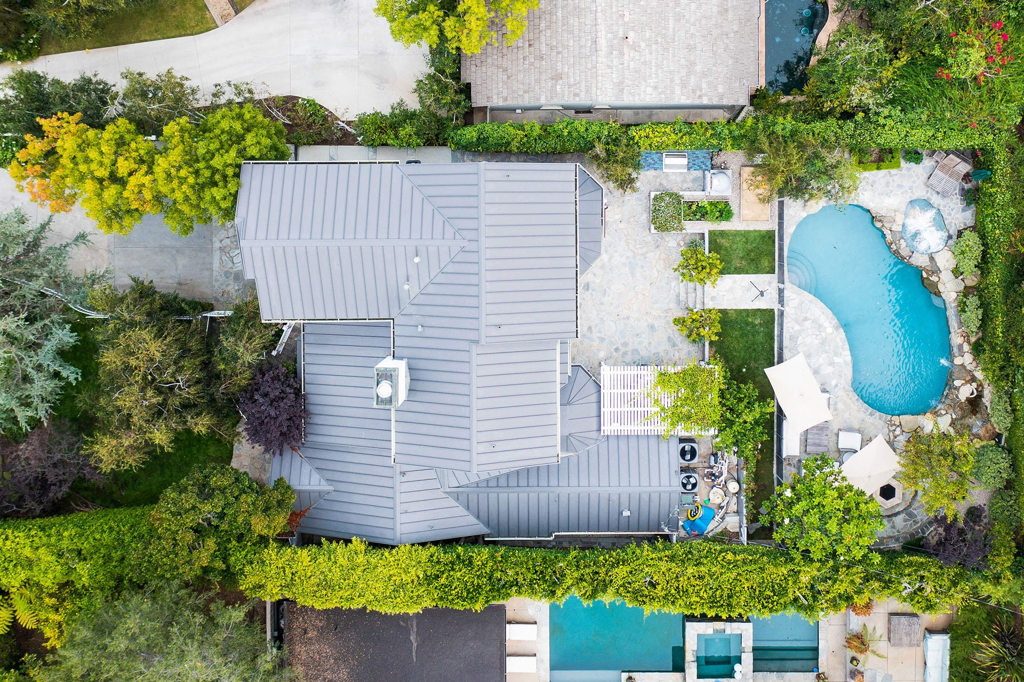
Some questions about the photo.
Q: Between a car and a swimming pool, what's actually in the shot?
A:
swimming pool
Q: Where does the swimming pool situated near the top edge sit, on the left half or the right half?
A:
right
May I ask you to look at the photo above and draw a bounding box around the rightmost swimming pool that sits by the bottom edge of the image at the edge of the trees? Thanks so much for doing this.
[750,581,818,673]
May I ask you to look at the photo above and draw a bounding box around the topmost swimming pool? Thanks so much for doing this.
[765,0,830,99]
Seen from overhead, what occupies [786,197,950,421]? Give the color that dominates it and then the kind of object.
blue swimming pool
